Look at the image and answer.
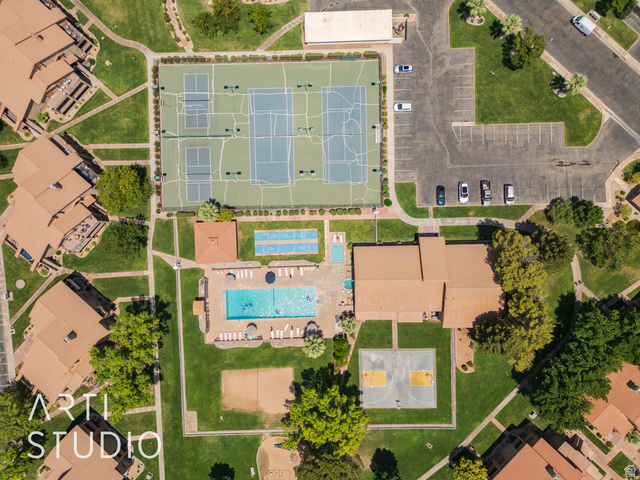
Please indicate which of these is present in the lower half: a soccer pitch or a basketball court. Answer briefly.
basketball court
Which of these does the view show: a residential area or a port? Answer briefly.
residential area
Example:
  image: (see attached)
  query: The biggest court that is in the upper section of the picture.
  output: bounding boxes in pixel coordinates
[160,60,381,211]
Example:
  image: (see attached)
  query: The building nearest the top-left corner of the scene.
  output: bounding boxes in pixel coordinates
[0,0,99,125]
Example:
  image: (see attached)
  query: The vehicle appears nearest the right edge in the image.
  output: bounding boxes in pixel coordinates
[569,14,600,38]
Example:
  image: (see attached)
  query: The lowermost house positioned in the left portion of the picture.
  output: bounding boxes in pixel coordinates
[44,407,138,480]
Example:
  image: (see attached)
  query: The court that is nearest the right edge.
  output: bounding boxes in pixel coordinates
[359,348,437,409]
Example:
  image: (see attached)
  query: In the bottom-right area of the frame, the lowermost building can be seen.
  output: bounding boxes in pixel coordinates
[480,424,604,480]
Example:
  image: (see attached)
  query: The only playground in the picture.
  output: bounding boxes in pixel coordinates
[257,436,304,480]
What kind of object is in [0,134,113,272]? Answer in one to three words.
house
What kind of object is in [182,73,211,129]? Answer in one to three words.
sports court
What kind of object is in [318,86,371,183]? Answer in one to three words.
tennis court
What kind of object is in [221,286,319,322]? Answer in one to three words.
swimming pool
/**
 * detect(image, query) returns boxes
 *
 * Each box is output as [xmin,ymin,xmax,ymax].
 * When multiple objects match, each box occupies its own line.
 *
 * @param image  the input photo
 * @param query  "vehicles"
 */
[569,14,600,38]
[394,64,414,74]
[393,102,413,112]
[459,182,468,202]
[481,181,491,206]
[504,184,515,204]
[436,186,446,206]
